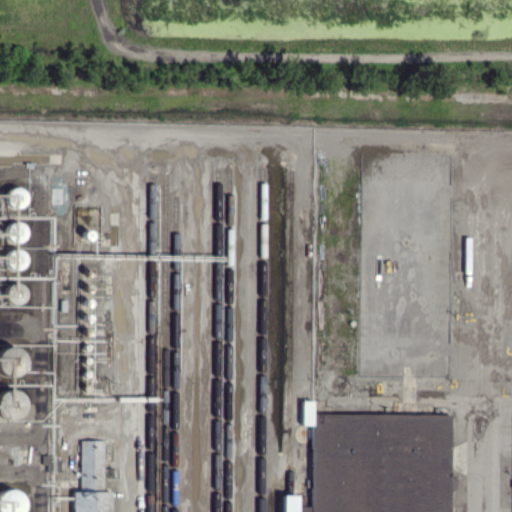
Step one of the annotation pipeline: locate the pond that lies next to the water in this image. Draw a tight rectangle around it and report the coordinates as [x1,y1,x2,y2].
[146,0,512,42]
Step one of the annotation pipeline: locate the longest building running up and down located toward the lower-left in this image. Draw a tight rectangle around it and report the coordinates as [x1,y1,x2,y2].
[80,441,105,492]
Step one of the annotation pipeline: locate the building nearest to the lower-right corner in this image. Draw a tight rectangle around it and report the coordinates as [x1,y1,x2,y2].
[312,414,452,512]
